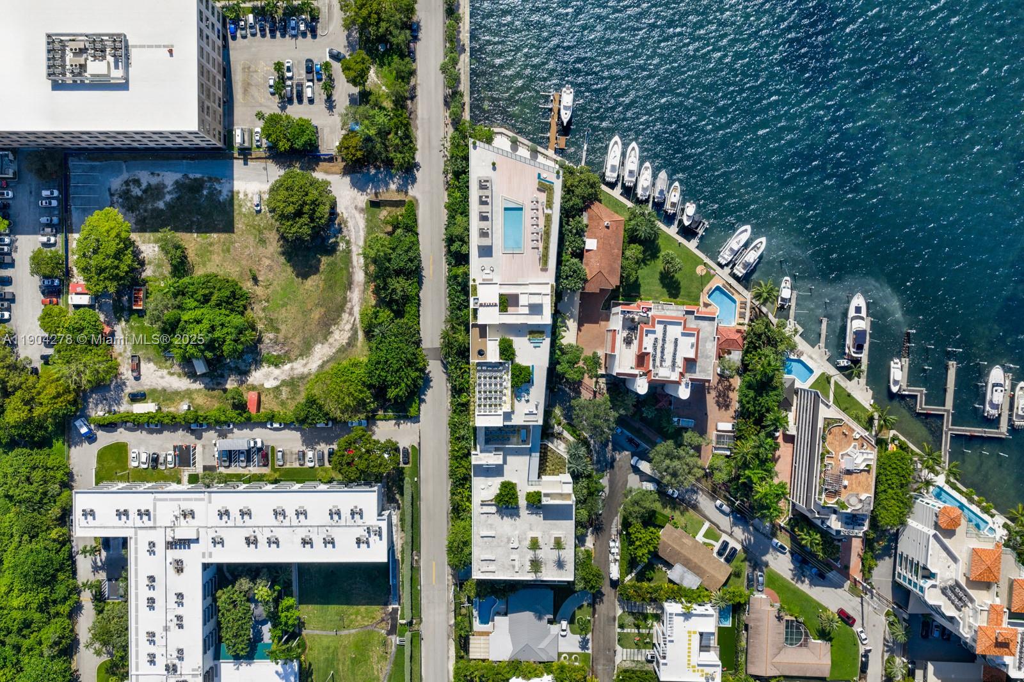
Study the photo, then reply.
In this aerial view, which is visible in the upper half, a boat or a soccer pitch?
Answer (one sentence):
The one visible in the upper half is a boat.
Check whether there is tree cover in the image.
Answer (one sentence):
Yes, there is tree cover in the image.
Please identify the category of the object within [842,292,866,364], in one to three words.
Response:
boat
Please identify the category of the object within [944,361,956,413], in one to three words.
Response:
pier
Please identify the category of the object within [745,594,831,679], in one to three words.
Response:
house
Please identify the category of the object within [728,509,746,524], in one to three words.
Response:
car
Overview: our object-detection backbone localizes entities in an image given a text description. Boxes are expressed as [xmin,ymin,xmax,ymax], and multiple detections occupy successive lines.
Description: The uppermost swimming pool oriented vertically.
[502,195,526,253]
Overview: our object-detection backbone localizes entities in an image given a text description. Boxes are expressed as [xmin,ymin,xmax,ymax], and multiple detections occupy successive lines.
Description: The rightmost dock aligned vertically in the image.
[997,372,1012,435]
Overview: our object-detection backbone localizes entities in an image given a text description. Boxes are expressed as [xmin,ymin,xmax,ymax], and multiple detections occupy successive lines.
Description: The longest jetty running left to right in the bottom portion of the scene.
[948,426,1008,439]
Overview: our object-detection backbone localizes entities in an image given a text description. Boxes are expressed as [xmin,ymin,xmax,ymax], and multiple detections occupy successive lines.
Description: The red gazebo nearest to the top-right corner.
[716,327,744,351]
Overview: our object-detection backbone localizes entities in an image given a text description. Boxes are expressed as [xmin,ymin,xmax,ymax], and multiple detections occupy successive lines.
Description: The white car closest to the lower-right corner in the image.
[854,626,868,646]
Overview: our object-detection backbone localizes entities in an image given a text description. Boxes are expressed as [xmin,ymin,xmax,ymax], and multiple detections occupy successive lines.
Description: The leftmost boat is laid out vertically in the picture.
[559,85,573,127]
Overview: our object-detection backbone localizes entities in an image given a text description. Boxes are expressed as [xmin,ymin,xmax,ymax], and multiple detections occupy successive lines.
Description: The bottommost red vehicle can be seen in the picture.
[836,608,855,625]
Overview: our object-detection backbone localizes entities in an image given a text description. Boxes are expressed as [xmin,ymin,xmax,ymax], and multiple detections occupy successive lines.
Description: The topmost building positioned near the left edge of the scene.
[0,0,227,150]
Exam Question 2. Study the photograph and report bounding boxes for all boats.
[664,182,680,216]
[834,360,850,366]
[716,225,750,266]
[1008,381,1024,429]
[653,170,668,203]
[688,214,701,234]
[635,161,651,201]
[604,135,620,184]
[682,201,695,226]
[980,365,1005,418]
[732,238,766,278]
[842,292,866,364]
[559,85,573,127]
[776,277,790,310]
[622,141,638,186]
[888,358,901,394]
